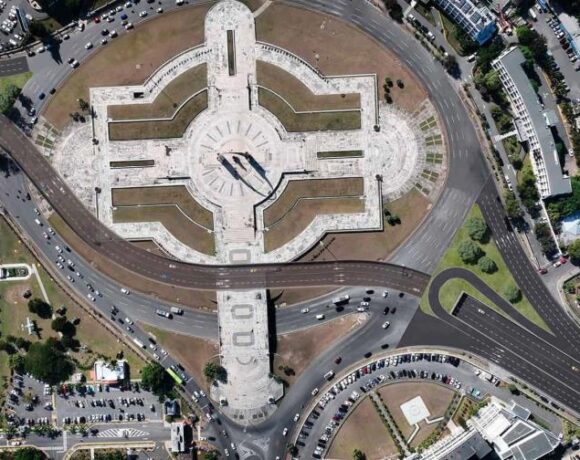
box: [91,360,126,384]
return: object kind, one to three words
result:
house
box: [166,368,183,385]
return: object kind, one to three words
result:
vehicle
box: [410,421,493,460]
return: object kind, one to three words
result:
building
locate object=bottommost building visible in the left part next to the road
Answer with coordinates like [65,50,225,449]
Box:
[171,417,191,451]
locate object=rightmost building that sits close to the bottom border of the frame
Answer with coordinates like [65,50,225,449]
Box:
[466,394,560,460]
